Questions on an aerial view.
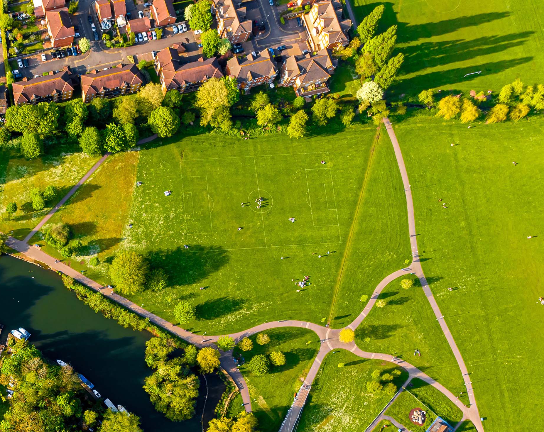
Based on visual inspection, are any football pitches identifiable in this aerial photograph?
Yes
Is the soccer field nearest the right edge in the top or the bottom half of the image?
top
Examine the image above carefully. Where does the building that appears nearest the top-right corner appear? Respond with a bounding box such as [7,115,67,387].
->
[305,0,351,57]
